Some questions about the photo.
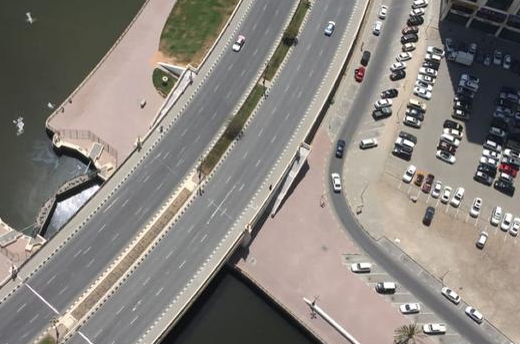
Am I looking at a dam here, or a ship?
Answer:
dam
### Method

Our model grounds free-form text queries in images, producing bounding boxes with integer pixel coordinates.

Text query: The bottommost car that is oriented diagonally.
[463,305,485,324]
